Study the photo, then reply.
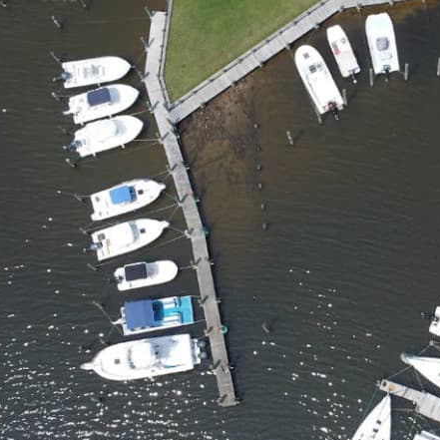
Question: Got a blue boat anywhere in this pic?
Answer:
Yes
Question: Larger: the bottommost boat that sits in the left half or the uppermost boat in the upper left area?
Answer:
the bottommost boat that sits in the left half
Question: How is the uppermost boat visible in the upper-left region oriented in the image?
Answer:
horizontally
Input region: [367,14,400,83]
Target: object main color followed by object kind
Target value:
white boat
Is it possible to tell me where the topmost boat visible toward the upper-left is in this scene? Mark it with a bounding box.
[52,60,132,87]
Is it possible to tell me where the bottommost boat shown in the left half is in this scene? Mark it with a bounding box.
[76,333,212,382]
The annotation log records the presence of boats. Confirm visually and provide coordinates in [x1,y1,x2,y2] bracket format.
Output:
[60,85,139,126]
[367,14,400,83]
[107,260,178,293]
[66,116,143,157]
[298,45,345,122]
[111,295,194,339]
[52,60,132,87]
[89,180,165,220]
[402,355,440,390]
[82,219,169,260]
[76,333,212,382]
[351,396,391,440]
[330,25,361,83]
